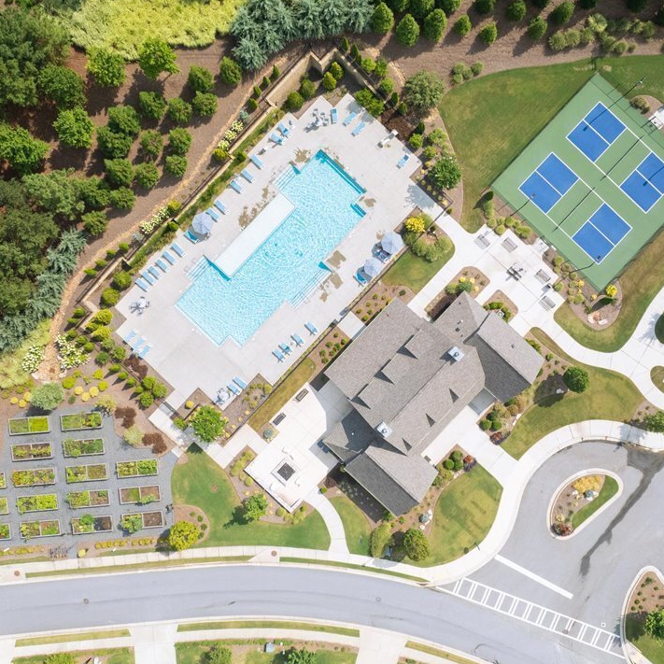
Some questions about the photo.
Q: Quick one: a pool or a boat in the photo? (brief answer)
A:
pool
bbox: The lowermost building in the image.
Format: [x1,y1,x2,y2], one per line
[322,291,545,516]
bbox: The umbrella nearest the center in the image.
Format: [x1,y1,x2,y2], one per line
[363,254,386,277]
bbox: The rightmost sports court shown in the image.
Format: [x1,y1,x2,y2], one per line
[621,151,664,210]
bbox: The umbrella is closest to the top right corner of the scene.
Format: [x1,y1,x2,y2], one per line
[381,231,403,253]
